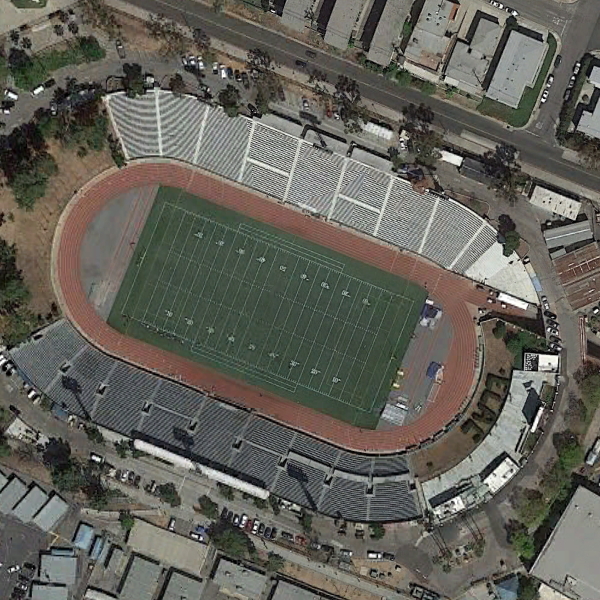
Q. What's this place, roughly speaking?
sports ground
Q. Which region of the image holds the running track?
center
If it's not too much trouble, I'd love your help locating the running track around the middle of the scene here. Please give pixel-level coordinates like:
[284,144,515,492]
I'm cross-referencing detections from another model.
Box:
[57,163,542,451]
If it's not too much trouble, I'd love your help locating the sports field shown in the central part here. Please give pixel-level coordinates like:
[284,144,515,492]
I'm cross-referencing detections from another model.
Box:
[106,186,429,428]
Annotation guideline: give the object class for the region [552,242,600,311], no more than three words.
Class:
building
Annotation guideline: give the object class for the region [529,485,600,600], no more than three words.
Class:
building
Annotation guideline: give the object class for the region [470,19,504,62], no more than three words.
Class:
house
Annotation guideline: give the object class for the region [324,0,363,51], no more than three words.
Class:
house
